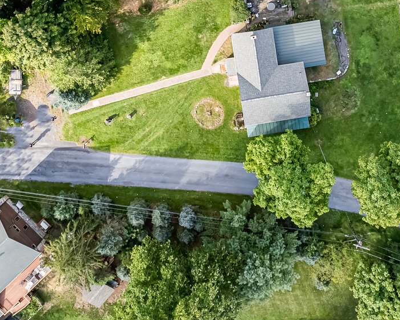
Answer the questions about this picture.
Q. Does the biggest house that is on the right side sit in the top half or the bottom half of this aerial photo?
top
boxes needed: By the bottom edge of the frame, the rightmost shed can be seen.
[82,281,109,307]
